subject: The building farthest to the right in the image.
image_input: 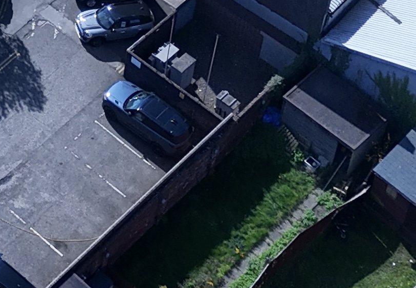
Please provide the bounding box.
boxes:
[364,121,416,244]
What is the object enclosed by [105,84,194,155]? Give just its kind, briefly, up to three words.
car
